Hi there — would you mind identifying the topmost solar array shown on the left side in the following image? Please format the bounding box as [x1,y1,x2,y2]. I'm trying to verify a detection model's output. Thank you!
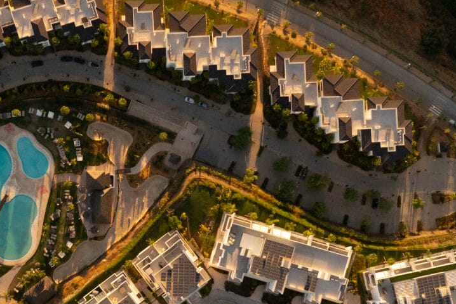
[167,259,196,297]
